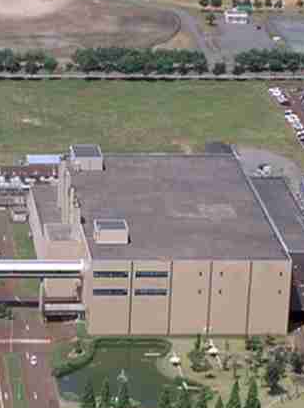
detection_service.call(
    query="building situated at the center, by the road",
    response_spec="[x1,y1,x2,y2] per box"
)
[28,143,293,334]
